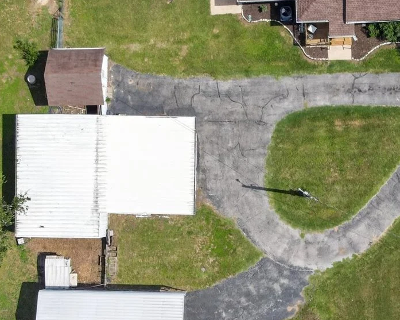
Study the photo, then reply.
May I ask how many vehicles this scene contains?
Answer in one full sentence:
No vehicles are visible.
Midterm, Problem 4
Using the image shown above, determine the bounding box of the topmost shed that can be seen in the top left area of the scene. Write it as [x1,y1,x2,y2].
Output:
[45,47,107,106]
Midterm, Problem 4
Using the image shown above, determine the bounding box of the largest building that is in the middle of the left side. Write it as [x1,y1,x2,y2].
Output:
[15,114,198,238]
